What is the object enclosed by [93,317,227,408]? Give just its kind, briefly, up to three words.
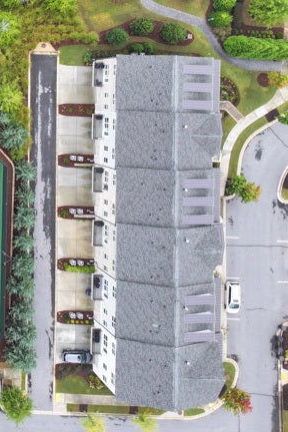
house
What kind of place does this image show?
residential area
